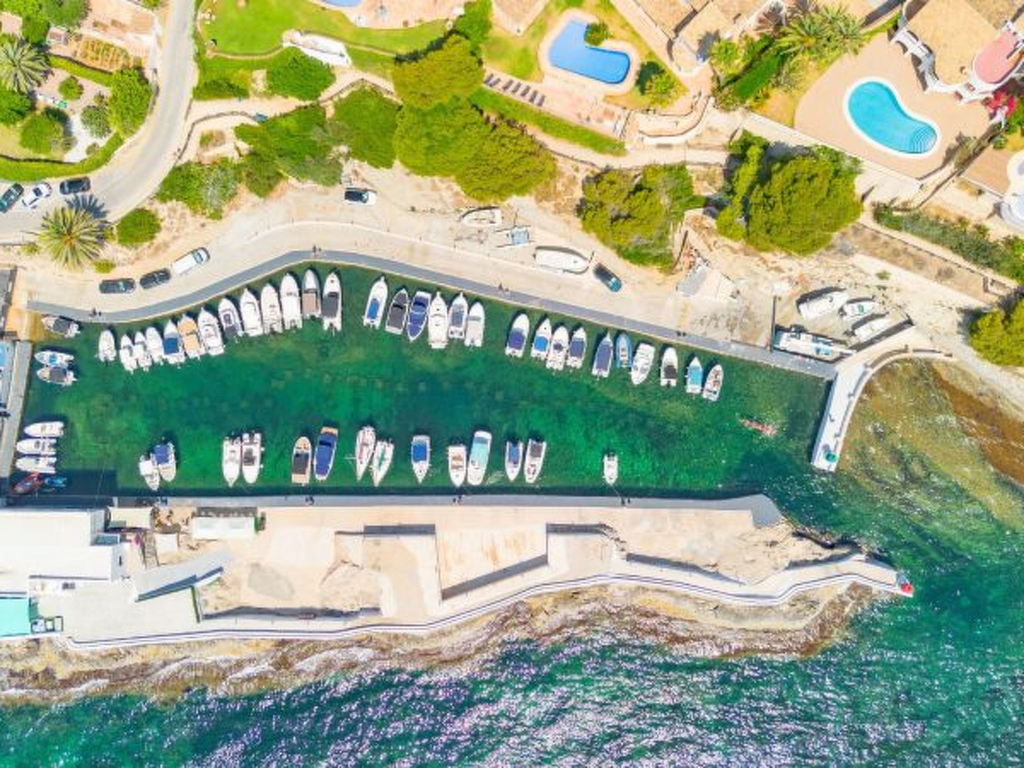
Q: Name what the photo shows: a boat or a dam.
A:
boat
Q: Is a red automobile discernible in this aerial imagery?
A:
No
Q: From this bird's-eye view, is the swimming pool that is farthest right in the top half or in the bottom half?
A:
top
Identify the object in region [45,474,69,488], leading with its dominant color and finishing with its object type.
blue boat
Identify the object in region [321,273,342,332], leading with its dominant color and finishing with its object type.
white boat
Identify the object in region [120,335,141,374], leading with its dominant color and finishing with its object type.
white boat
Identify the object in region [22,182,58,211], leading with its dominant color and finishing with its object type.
white car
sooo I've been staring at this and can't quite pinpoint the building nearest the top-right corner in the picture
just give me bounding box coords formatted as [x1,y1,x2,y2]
[883,0,1024,105]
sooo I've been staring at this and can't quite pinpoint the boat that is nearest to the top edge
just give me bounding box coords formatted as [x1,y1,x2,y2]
[463,210,500,229]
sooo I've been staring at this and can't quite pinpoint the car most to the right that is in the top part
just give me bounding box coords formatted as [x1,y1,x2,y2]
[590,264,623,293]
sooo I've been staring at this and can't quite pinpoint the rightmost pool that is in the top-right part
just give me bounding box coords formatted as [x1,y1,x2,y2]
[844,78,941,159]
